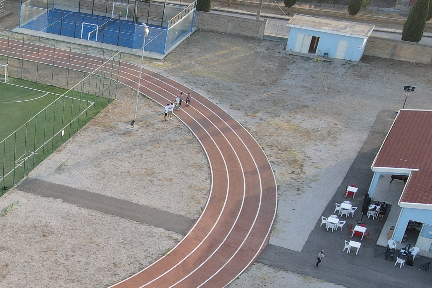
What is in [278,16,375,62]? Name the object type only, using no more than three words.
shed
